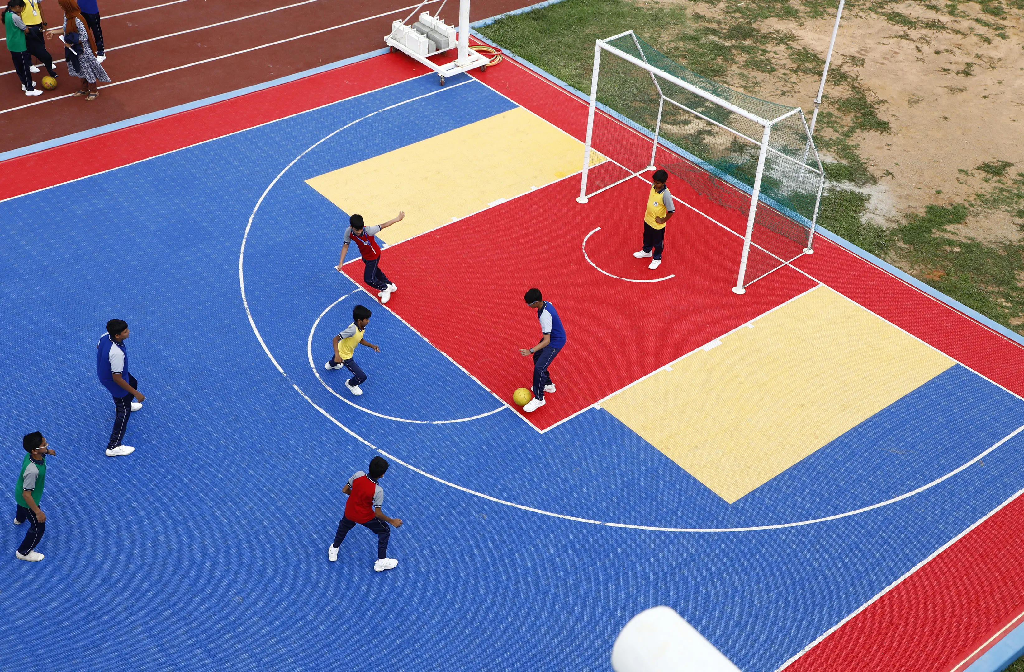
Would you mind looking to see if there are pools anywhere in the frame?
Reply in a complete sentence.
No, the picture doesn't show any pool.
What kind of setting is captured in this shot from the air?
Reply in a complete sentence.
This image shows a sports ground.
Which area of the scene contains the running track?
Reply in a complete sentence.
The running track sits in the top left section of the image.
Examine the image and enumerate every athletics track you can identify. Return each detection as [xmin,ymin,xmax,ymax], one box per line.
[0,0,534,150]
